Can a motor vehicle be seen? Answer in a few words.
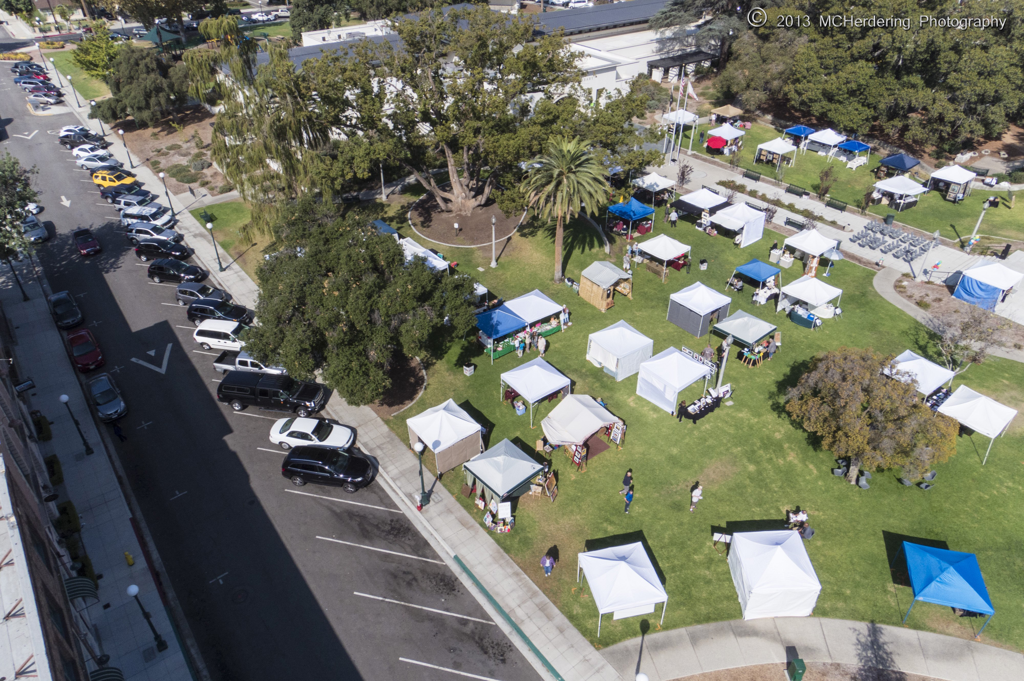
Yes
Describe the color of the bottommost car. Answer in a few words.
black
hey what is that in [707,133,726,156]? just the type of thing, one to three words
umbrella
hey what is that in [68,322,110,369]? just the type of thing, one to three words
car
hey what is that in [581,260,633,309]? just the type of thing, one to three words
shed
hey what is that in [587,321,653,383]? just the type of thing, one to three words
tent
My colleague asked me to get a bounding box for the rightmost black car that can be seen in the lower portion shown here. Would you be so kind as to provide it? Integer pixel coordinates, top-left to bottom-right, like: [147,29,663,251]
[280,443,378,497]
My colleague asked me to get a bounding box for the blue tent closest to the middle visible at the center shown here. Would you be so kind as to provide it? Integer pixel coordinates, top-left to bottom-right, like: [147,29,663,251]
[473,298,524,343]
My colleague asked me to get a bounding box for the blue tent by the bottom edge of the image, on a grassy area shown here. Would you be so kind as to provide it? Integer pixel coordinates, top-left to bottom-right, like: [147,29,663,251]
[884,542,994,648]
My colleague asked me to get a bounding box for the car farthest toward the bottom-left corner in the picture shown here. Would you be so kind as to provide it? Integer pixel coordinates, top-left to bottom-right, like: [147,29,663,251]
[86,365,134,420]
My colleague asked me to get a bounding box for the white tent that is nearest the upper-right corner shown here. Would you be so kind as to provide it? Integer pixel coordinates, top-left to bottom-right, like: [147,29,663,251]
[926,165,976,205]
